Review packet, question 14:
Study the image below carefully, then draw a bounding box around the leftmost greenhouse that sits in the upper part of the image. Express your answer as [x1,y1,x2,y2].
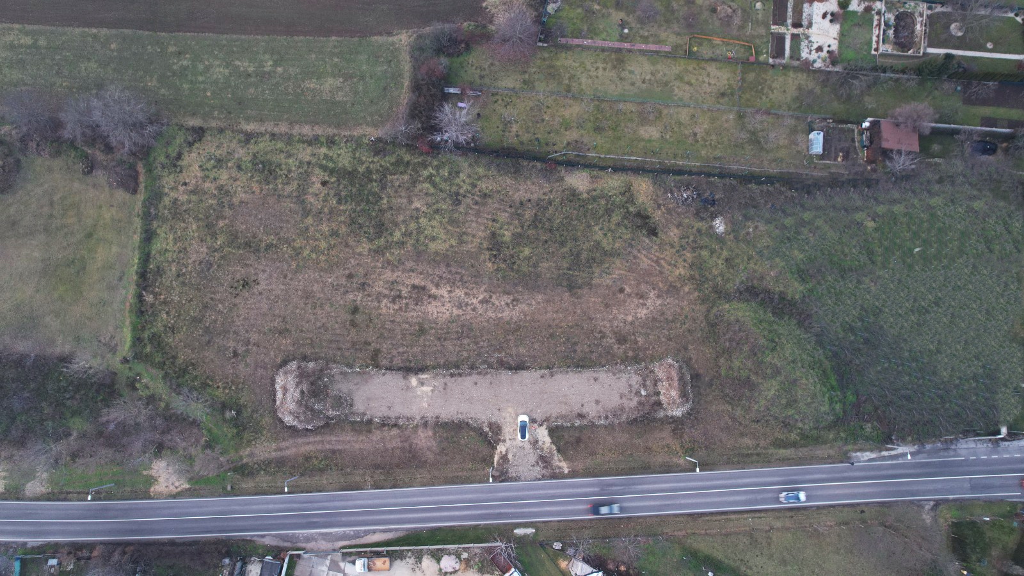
[810,129,826,154]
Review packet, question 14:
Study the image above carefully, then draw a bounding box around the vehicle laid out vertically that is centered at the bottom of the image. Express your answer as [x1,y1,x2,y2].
[517,414,530,442]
